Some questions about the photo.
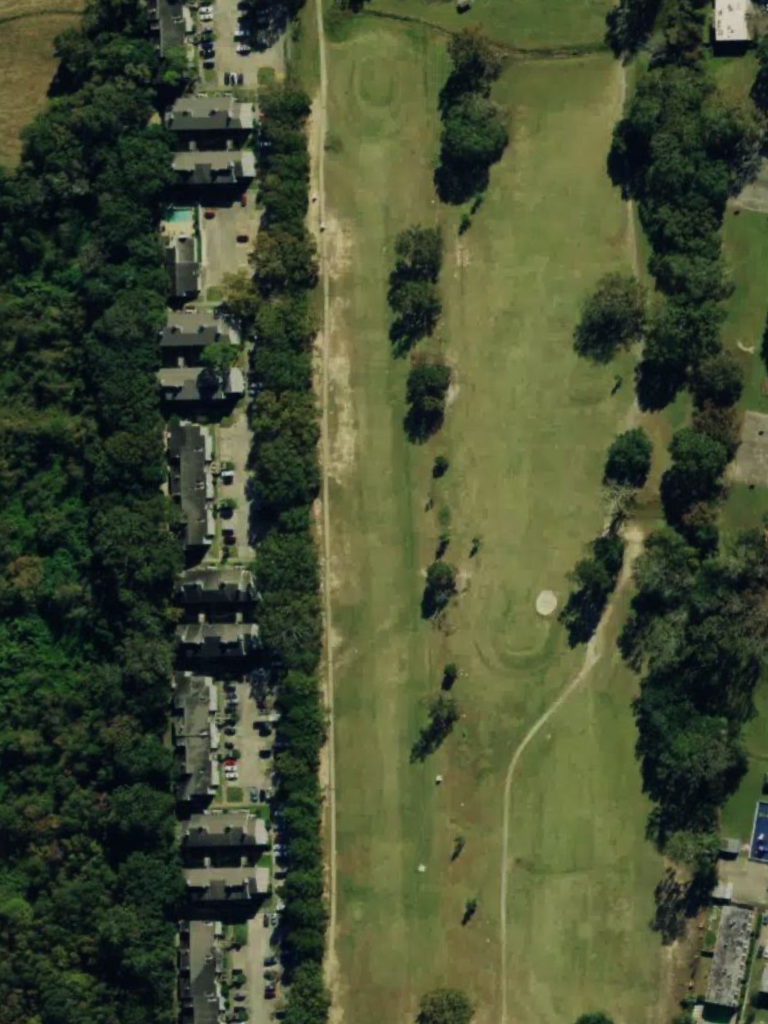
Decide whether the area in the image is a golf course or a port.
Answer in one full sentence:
What you see here is a golf course.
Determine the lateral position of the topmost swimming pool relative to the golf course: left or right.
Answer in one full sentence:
The topmost swimming pool appears to the left of the golf course in this view.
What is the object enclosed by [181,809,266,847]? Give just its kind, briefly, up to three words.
building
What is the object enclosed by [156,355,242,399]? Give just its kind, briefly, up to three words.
building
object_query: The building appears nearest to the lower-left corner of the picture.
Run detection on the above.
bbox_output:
[178,921,224,1024]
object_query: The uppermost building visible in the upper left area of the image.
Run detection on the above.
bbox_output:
[148,0,192,58]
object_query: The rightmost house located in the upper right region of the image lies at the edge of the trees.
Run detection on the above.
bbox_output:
[715,0,755,39]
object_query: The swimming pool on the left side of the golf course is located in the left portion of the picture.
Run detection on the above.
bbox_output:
[161,205,195,241]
